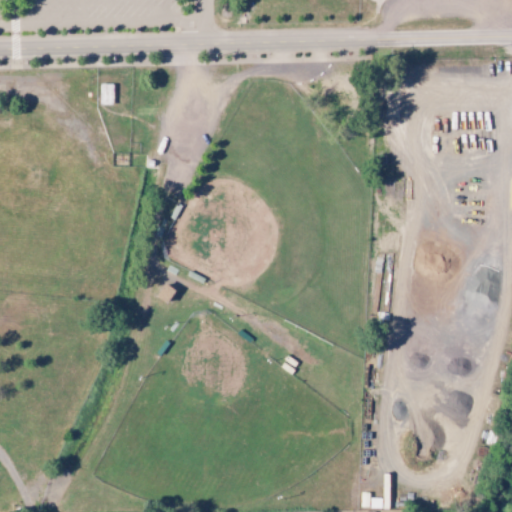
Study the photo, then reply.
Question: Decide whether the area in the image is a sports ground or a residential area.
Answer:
sports ground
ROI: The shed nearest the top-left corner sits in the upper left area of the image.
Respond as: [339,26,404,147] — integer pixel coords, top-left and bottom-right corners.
[100,82,114,105]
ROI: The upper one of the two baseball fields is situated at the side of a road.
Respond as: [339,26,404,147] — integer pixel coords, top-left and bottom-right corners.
[168,78,371,357]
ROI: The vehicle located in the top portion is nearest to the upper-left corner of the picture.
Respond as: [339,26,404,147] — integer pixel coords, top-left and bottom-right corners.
[156,137,170,155]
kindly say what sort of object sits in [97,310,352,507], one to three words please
baseball field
